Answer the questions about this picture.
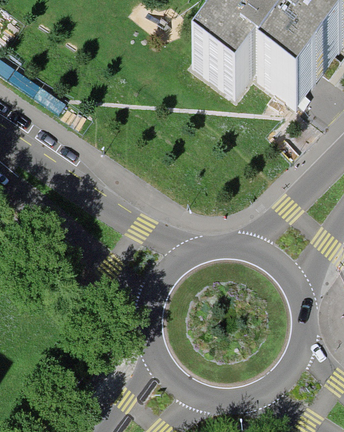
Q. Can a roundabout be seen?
Yes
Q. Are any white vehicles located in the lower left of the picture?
No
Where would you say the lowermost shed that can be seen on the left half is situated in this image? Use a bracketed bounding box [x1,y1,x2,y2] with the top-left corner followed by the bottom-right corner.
[35,88,66,116]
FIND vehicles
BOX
[310,342,328,364]
[298,298,312,322]
[8,110,32,130]
[0,170,10,186]
[57,144,80,164]
[0,100,10,114]
[35,128,58,148]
